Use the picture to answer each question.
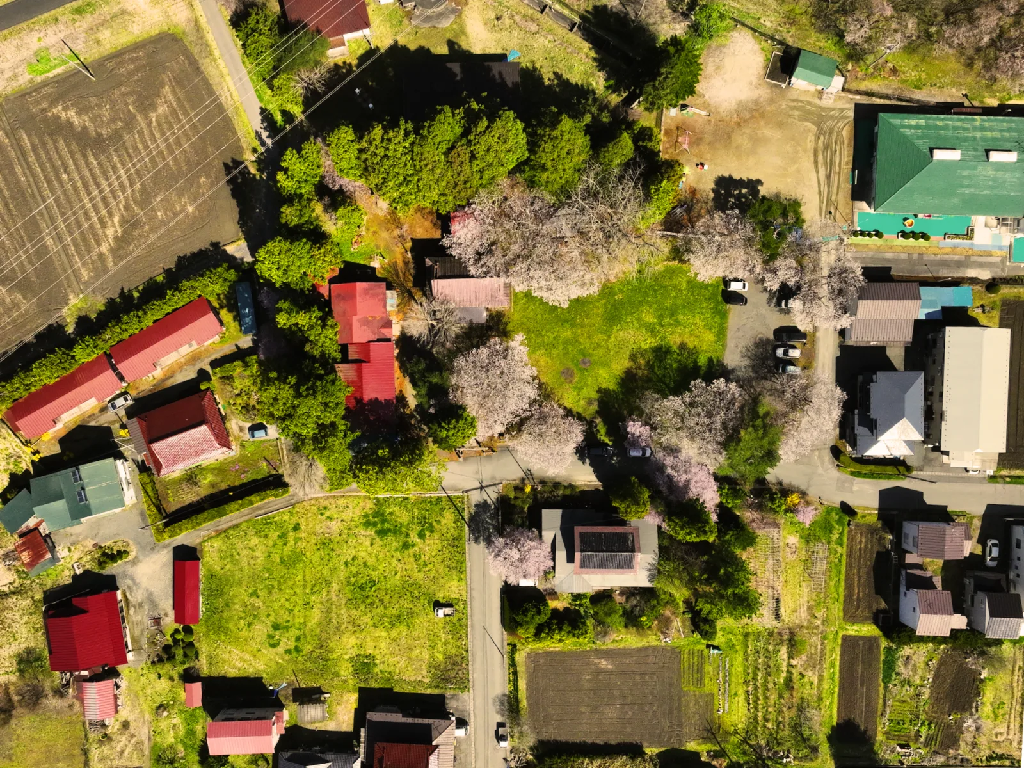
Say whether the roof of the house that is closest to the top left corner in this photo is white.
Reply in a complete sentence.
No, the roof of the house that is closest to the top left corner is actually red.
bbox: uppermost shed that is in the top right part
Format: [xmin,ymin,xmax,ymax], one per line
[788,50,845,95]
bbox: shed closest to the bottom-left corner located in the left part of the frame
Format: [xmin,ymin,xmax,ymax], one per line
[73,676,123,720]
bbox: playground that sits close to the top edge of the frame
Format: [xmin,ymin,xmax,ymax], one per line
[661,26,857,276]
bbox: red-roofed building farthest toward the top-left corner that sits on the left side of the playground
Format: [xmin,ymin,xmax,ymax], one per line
[282,0,371,58]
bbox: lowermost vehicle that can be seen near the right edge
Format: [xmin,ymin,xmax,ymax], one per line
[983,539,998,565]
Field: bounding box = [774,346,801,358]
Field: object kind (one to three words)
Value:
vehicle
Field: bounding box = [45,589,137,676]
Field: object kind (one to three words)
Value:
house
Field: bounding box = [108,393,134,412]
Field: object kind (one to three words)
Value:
car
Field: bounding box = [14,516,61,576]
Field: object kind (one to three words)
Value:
shed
